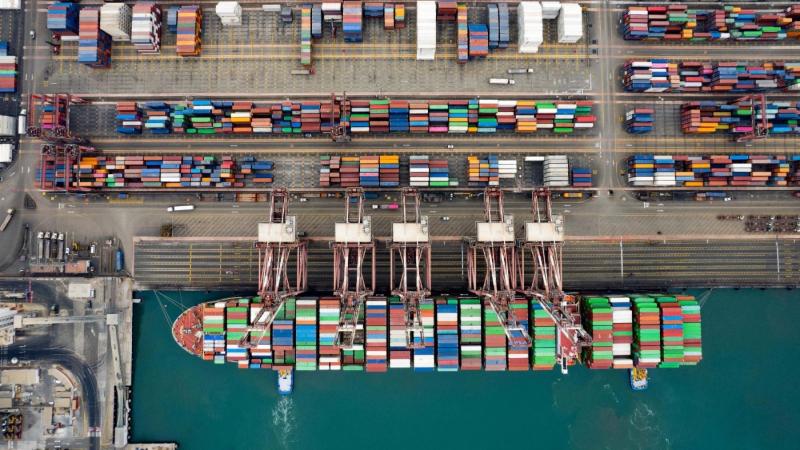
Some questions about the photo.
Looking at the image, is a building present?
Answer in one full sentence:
Yes, a building is visible in the scene.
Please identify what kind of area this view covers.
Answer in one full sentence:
What you see here is a port.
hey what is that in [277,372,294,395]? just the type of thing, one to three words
boat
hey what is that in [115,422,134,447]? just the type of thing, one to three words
house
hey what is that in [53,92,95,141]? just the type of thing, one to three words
container crane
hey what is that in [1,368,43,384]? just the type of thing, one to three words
building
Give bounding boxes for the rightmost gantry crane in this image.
[724,92,767,141]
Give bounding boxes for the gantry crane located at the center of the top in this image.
[330,92,353,141]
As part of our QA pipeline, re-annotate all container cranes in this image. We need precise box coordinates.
[26,92,70,141]
[40,145,82,191]
[53,92,95,141]
[505,184,593,348]
[724,92,767,141]
[234,184,315,348]
[462,184,531,348]
[330,184,380,348]
[64,145,105,191]
[388,184,434,348]
[330,92,353,141]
